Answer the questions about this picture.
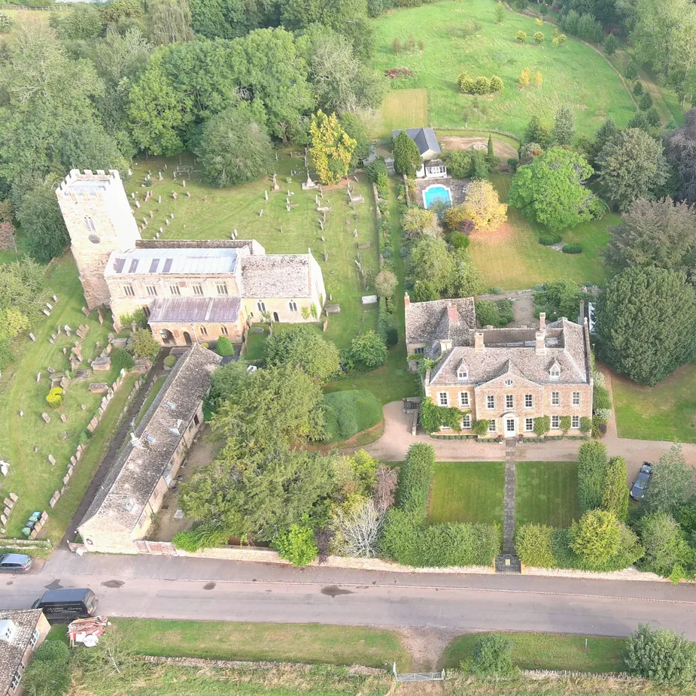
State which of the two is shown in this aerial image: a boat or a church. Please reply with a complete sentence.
Looking from above, you can make out a church.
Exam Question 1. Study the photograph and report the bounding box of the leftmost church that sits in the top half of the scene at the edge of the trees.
[48,161,334,348]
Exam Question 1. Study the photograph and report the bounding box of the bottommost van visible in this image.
[36,591,94,621]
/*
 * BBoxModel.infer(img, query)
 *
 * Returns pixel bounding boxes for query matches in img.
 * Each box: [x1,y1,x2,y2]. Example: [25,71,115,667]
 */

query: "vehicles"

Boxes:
[0,553,32,574]
[631,464,654,496]
[36,591,94,621]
